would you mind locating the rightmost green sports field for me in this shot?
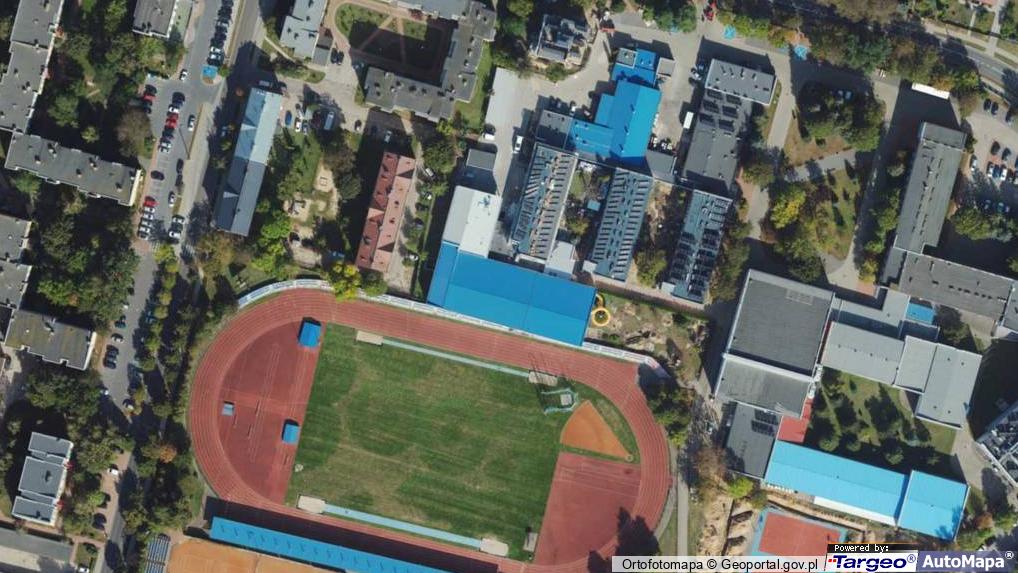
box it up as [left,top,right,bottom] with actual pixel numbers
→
[284,322,638,565]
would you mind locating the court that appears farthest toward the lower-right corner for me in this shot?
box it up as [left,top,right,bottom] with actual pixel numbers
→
[746,502,849,573]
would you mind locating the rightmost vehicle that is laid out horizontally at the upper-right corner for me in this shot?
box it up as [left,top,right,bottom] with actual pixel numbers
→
[911,84,949,99]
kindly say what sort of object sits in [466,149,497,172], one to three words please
house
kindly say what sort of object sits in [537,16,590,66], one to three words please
house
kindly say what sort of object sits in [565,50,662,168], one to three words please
building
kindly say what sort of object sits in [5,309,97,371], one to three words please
building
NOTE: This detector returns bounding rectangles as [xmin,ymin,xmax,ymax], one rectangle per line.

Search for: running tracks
[188,288,671,573]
